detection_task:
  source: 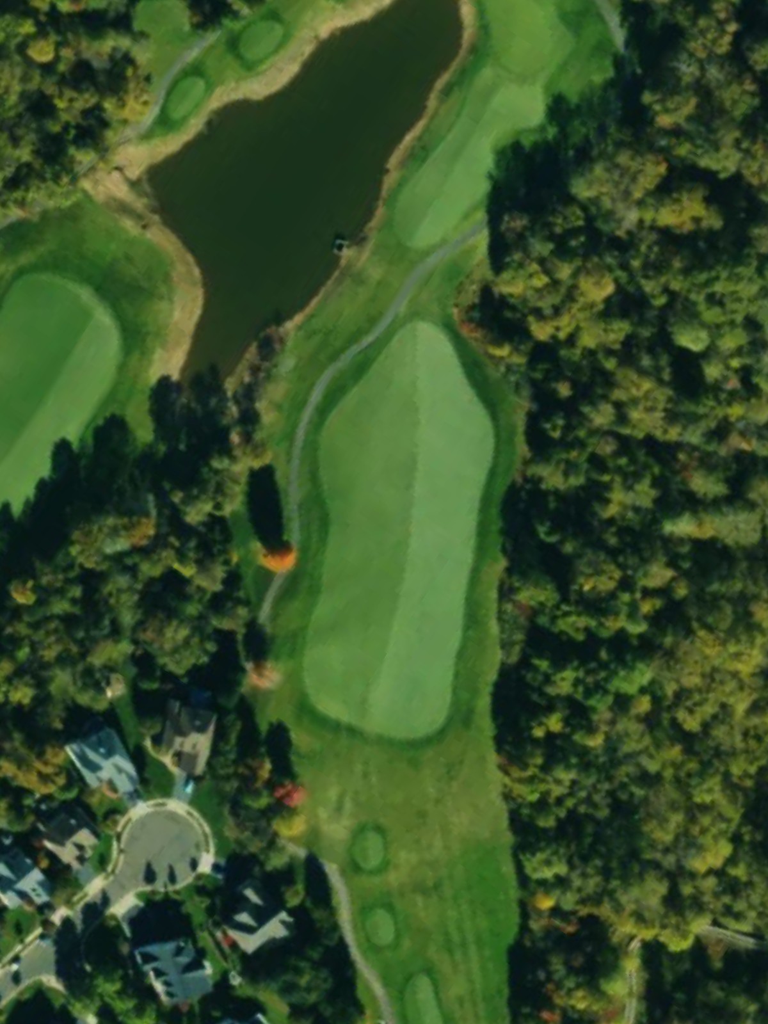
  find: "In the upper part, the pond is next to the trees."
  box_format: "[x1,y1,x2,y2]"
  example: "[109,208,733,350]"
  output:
[111,0,463,420]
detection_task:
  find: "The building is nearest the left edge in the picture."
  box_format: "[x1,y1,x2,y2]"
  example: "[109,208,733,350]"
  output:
[0,838,58,911]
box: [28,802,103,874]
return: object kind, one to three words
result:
house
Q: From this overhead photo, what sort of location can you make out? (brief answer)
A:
golf course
